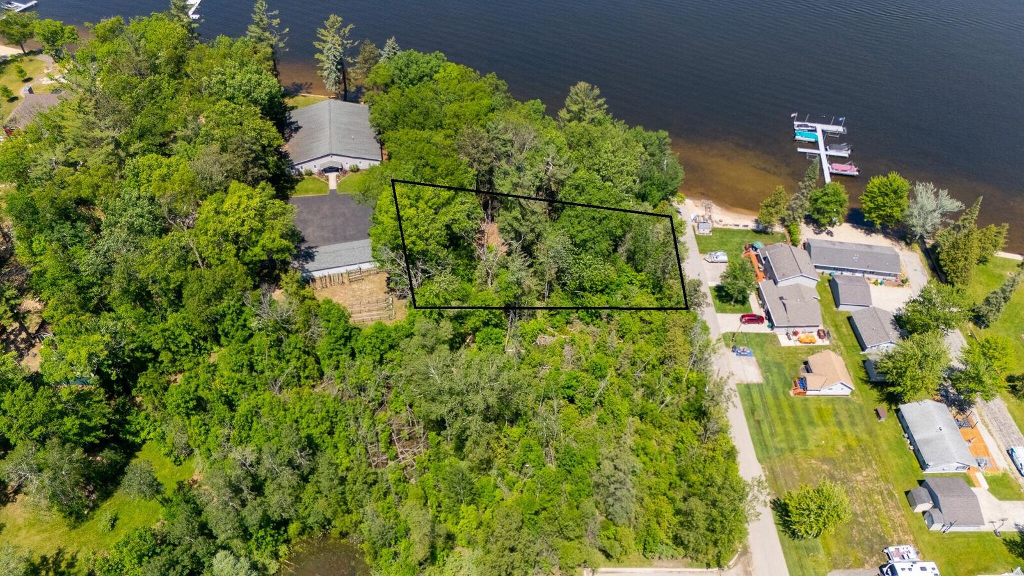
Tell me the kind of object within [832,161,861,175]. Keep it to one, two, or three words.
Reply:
boat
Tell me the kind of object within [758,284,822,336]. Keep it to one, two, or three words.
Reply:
house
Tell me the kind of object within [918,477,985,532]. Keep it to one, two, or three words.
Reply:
building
